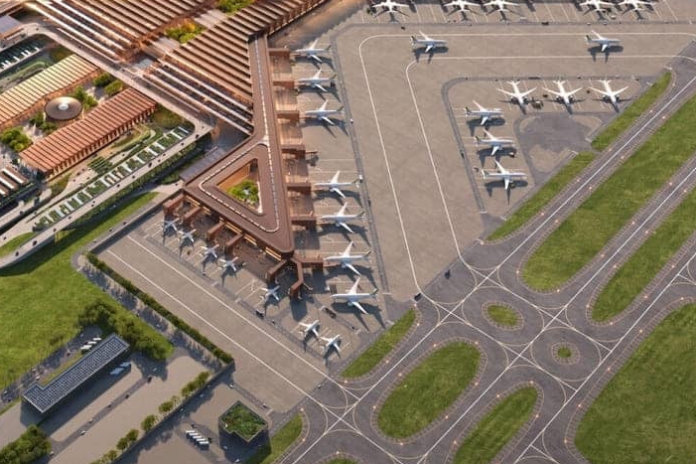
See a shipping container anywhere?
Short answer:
No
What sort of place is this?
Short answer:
airport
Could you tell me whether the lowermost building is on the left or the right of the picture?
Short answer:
left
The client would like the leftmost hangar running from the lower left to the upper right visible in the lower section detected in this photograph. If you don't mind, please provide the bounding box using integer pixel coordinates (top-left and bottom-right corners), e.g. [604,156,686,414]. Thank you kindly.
[23,333,129,420]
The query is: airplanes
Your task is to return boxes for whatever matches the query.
[484,159,523,184]
[468,99,504,121]
[484,0,513,10]
[375,0,405,10]
[498,77,533,103]
[158,217,182,233]
[317,169,356,196]
[307,98,343,121]
[447,0,476,10]
[583,0,612,9]
[299,68,334,89]
[412,33,442,50]
[196,242,220,259]
[315,332,341,352]
[588,33,618,49]
[216,254,240,272]
[589,76,623,103]
[332,279,376,311]
[321,199,362,227]
[475,128,512,152]
[326,239,368,269]
[257,282,282,300]
[542,77,577,101]
[294,318,320,337]
[175,227,198,244]
[294,38,328,58]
